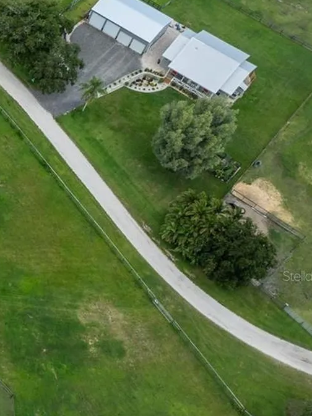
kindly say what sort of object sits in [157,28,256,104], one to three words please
house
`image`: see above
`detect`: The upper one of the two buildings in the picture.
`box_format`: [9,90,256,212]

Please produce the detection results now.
[87,0,172,54]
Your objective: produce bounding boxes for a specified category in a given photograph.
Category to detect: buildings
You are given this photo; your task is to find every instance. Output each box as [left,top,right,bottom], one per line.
[157,28,256,104]
[87,0,172,54]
